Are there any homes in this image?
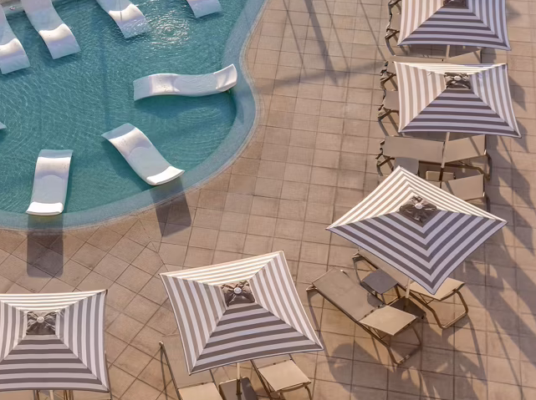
No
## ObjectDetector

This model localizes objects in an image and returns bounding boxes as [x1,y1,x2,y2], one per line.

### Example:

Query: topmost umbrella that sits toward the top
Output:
[396,0,509,64]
